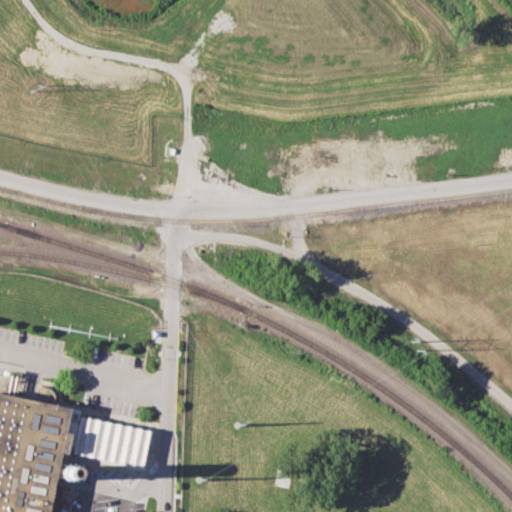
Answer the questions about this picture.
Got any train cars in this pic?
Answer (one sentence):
No, no train car is visible in the view.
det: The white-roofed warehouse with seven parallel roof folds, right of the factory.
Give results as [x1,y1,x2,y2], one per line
[71,418,151,472]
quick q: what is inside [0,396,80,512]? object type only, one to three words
building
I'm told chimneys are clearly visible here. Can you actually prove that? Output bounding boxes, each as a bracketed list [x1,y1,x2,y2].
[60,464,88,484]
